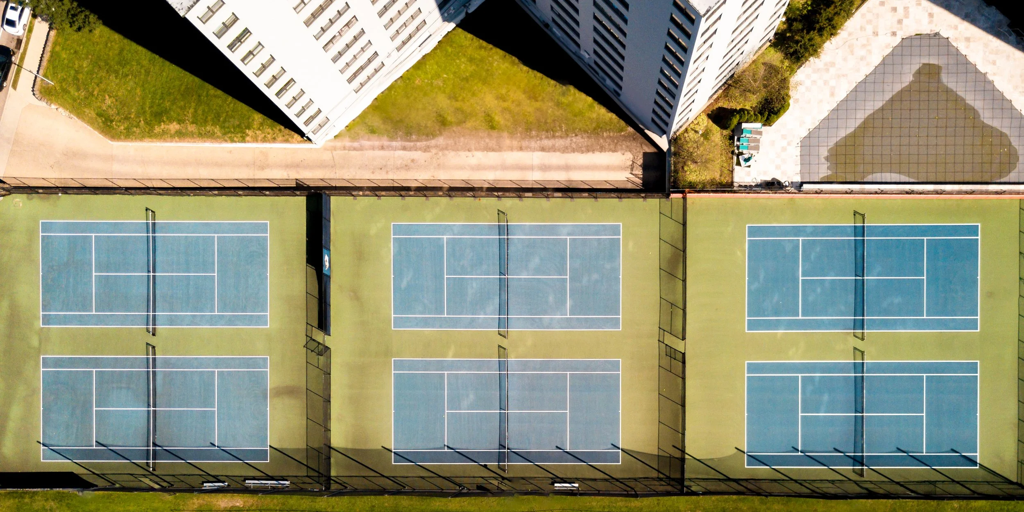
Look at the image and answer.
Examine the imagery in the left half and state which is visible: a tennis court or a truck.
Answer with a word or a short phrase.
tennis court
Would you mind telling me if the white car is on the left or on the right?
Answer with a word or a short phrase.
left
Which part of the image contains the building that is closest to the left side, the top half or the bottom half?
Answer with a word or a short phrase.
top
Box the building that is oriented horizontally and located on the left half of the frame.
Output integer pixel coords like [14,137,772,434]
[165,0,479,148]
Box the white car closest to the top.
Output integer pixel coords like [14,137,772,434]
[4,0,29,36]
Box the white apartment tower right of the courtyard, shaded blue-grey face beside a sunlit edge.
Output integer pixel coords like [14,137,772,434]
[513,0,788,154]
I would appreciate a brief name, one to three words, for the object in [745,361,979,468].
tennis court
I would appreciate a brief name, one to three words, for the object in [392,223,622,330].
tennis court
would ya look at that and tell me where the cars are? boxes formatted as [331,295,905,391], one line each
[4,0,29,36]
[0,46,13,91]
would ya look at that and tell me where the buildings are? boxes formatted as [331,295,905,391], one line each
[165,0,479,148]
[513,0,788,154]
